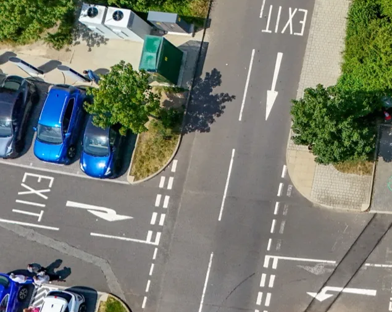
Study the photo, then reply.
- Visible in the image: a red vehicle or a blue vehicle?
blue vehicle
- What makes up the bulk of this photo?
paved ground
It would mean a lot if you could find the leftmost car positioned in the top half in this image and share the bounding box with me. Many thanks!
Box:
[0,79,46,158]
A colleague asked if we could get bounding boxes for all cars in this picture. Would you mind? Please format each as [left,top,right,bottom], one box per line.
[38,292,87,312]
[79,108,134,178]
[34,89,90,163]
[0,79,46,158]
[0,272,31,312]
